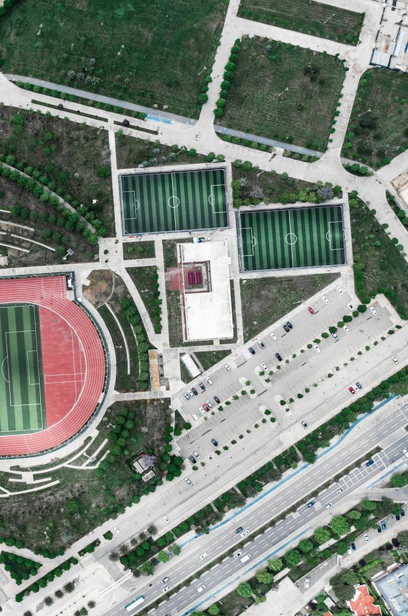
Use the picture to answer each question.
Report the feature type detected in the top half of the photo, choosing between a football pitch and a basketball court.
football pitch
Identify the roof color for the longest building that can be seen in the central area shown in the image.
white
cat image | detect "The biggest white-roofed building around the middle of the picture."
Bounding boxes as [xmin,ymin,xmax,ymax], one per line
[174,238,235,343]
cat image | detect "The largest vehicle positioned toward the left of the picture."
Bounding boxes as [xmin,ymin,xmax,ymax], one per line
[127,596,146,613]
